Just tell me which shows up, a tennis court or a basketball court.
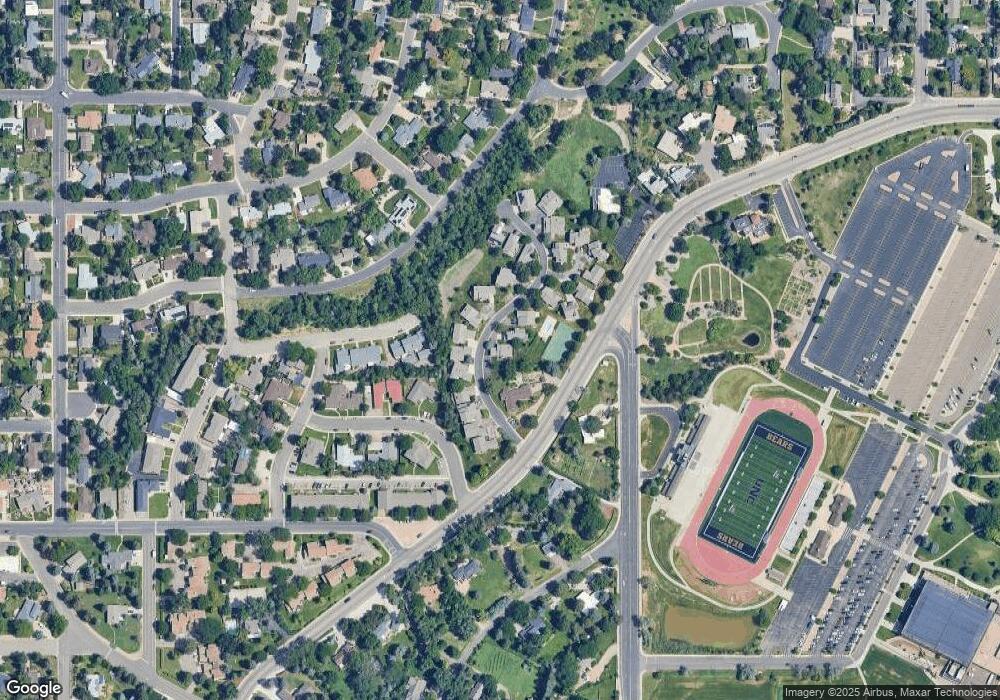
tennis court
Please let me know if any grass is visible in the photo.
Yes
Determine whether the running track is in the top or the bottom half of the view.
bottom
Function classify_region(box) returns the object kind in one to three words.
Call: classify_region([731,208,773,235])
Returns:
building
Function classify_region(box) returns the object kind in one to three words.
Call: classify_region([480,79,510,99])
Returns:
house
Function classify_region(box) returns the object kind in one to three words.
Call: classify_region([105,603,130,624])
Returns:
house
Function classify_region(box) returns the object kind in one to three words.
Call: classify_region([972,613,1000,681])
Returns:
building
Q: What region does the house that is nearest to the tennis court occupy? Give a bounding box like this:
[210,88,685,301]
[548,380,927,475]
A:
[562,295,583,321]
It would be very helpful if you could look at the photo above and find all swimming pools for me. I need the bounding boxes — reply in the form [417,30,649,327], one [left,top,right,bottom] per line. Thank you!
[539,315,556,342]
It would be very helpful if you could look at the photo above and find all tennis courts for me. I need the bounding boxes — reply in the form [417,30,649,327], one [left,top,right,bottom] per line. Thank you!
[542,321,575,362]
